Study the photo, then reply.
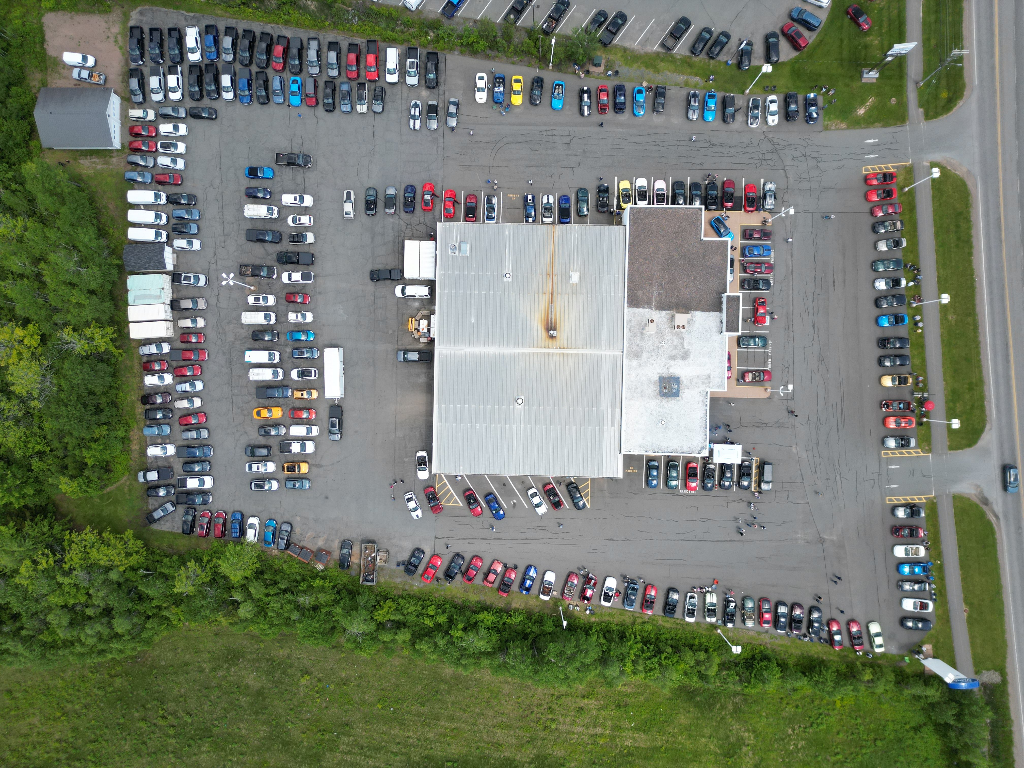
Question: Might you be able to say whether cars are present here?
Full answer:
Yes, a car appears in the view.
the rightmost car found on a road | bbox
[1002,464,1021,493]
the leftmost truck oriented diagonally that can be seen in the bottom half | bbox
[145,500,179,526]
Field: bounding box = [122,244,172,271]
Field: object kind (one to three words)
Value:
shed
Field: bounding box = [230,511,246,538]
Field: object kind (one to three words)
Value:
car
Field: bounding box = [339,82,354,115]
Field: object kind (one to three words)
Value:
vehicle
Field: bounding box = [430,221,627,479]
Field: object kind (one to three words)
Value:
building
